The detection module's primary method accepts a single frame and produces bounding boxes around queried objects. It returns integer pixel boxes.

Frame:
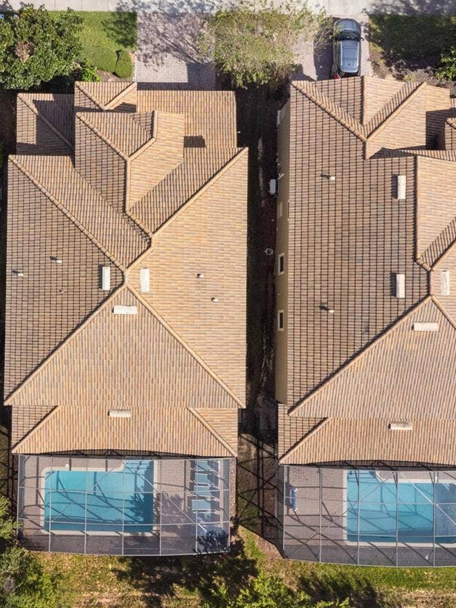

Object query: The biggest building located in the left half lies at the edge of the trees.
[2,80,251,458]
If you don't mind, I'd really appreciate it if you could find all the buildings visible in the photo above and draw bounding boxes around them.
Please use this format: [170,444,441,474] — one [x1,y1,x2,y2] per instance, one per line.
[274,76,456,468]
[2,80,251,458]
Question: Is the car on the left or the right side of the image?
right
